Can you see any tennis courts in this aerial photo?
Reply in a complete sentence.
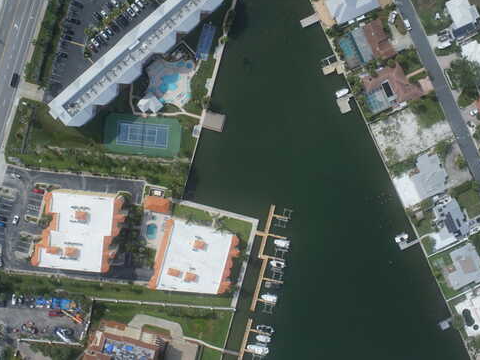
Yes, the picture does show a tennis court.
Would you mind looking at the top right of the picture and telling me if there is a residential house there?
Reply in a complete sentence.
Yes, a residential house shows up at the top right of the picture.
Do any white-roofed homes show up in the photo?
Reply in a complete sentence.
Yes, there's a white-roofed home here.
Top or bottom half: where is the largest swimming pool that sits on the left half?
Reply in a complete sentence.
It is in the top half that the largest swimming pool that sits on the left half appears.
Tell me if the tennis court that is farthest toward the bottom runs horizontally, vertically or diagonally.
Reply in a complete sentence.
Seen from above, the tennis court that is farthest toward the bottom lies horizontally.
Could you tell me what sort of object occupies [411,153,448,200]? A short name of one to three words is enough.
house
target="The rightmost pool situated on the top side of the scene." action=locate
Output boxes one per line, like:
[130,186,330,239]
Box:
[369,95,389,112]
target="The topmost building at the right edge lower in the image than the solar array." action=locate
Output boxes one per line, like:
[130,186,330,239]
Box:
[447,243,480,291]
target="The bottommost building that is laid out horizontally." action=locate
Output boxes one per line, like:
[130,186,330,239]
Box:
[88,327,170,360]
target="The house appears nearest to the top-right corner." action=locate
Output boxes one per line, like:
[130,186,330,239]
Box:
[445,0,480,29]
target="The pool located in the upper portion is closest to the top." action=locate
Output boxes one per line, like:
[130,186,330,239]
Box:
[339,36,356,59]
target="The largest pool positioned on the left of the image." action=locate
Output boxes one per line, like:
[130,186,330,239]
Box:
[156,69,184,96]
